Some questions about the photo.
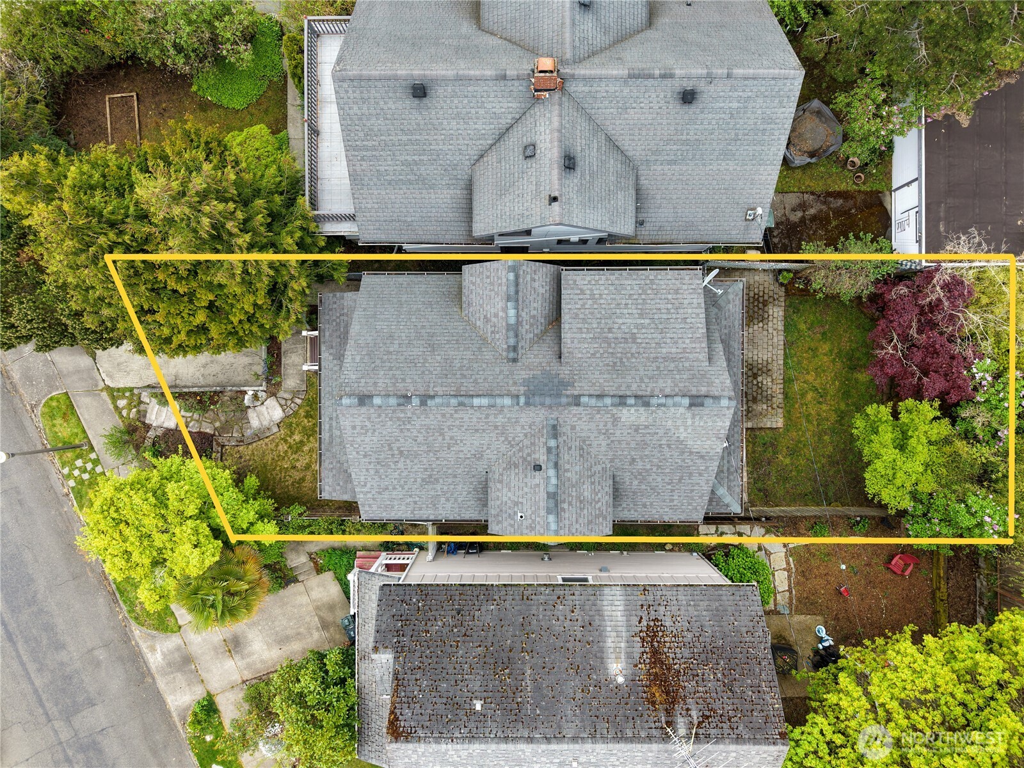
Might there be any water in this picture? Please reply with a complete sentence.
No, there is no water in the image.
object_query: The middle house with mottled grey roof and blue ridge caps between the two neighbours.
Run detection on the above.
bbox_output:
[302,258,747,553]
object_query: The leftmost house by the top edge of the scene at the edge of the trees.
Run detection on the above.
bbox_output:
[305,0,807,256]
